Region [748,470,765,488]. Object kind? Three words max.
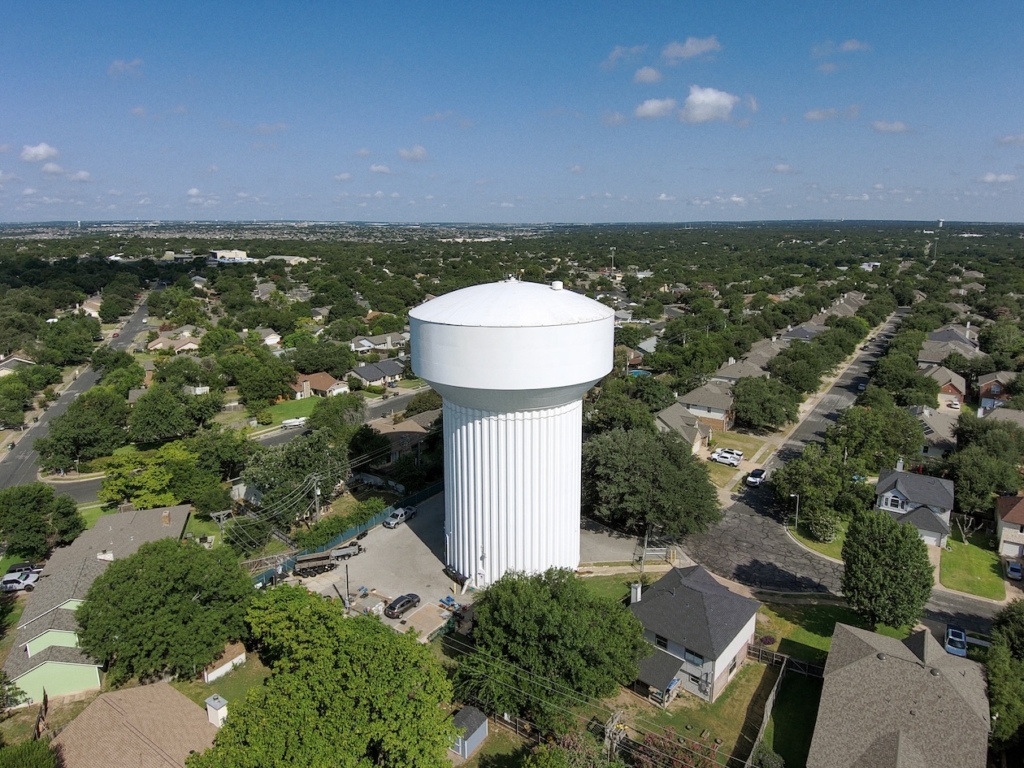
car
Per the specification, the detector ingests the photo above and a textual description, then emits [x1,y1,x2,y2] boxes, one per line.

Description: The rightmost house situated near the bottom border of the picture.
[806,623,1000,768]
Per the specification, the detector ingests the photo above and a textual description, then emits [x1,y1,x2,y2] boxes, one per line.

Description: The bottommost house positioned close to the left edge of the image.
[51,683,248,768]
